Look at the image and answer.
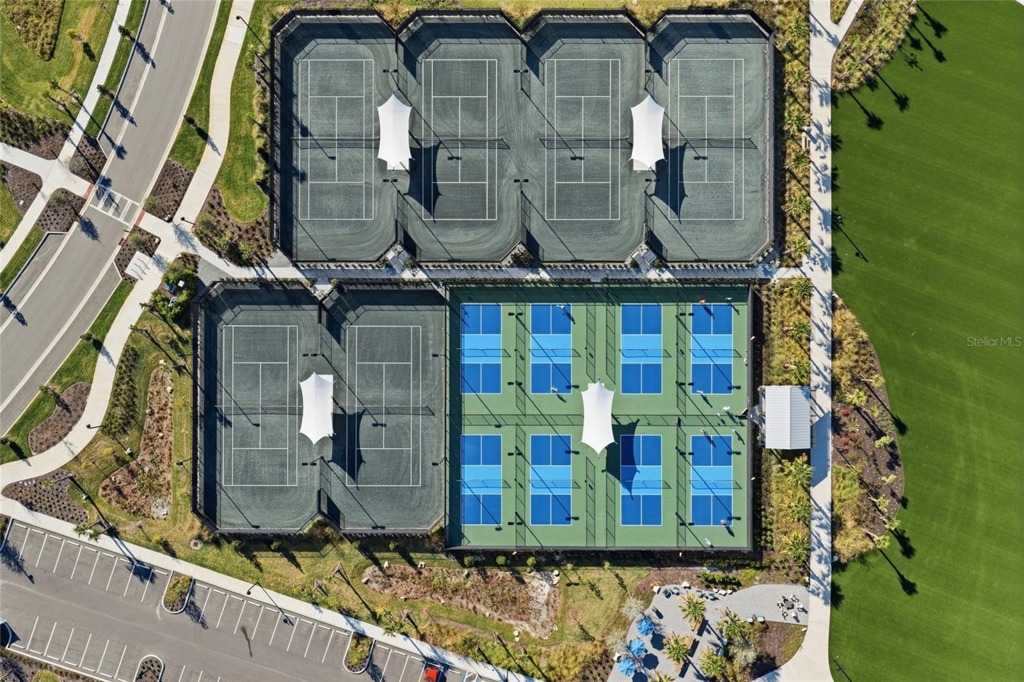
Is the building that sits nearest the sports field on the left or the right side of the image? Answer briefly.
right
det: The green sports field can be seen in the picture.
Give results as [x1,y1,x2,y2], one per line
[831,0,1024,682]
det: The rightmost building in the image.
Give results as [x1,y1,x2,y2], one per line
[763,386,810,451]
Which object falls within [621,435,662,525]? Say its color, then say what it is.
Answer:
blue sports court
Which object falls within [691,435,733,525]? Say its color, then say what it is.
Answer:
blue sports court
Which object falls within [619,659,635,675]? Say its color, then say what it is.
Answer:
blue umbrella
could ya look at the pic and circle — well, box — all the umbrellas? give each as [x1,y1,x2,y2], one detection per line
[637,619,654,635]
[629,639,645,654]
[619,659,635,675]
